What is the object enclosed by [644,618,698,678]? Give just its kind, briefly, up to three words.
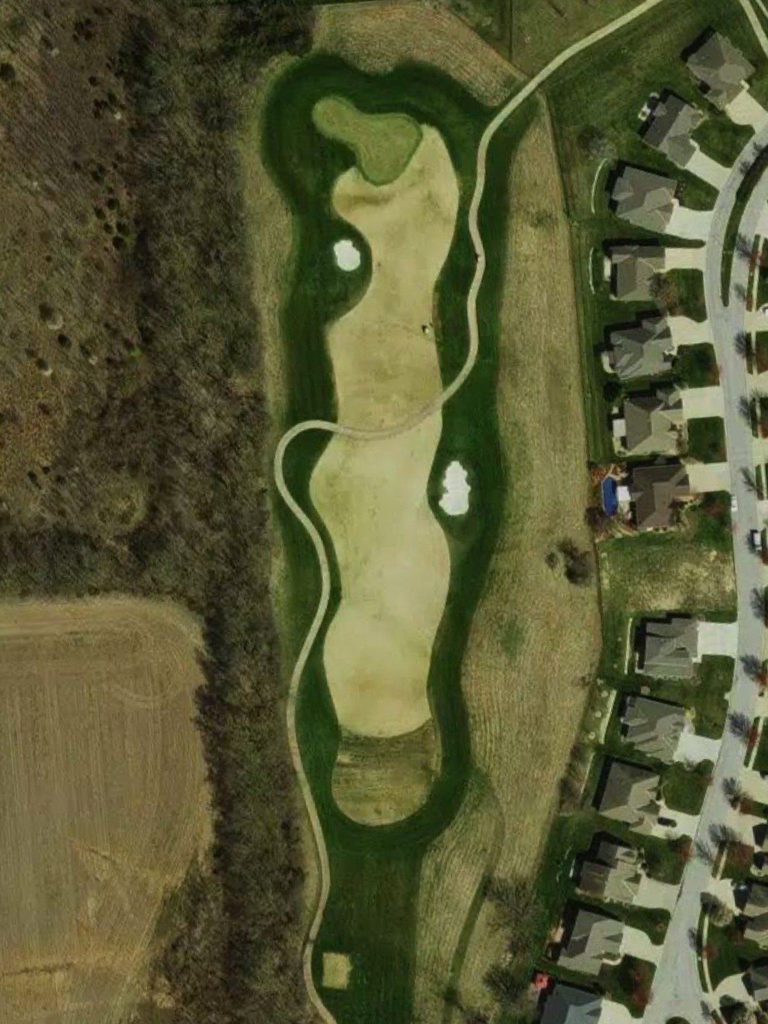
house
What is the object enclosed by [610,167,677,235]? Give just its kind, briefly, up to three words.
house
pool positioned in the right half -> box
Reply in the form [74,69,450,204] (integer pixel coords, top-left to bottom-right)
[602,477,618,517]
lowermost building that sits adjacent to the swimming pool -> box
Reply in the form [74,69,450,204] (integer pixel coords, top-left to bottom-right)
[632,464,690,529]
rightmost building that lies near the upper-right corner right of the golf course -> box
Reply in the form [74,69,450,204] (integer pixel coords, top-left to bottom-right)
[685,32,750,111]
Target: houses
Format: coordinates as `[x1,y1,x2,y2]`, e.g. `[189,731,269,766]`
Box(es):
[600,762,662,835]
[746,951,768,1008]
[643,95,703,169]
[610,246,665,300]
[559,907,624,974]
[744,882,768,945]
[632,464,690,529]
[644,618,698,678]
[610,167,677,235]
[622,697,684,763]
[685,32,750,111]
[545,984,607,1024]
[578,839,641,905]
[611,316,673,379]
[624,387,684,452]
